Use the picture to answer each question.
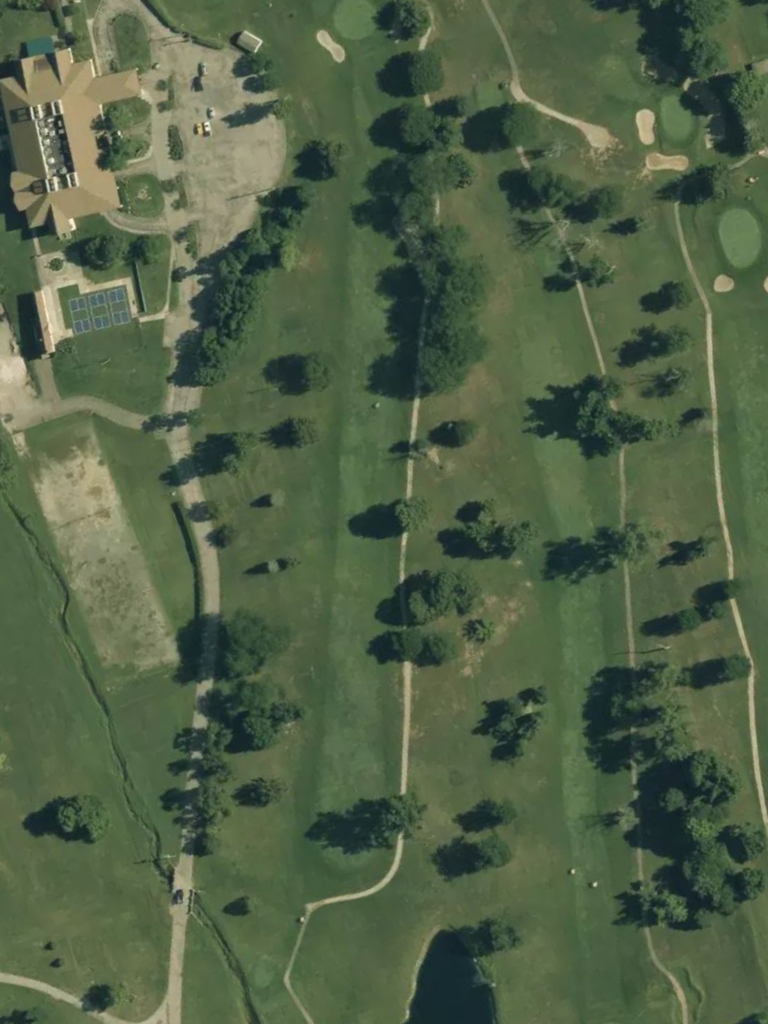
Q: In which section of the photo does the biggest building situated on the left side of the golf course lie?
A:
top left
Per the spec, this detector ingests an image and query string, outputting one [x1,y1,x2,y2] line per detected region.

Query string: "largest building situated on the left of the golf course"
[1,48,140,241]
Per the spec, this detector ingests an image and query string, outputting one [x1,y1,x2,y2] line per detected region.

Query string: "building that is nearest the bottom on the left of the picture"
[35,291,56,358]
